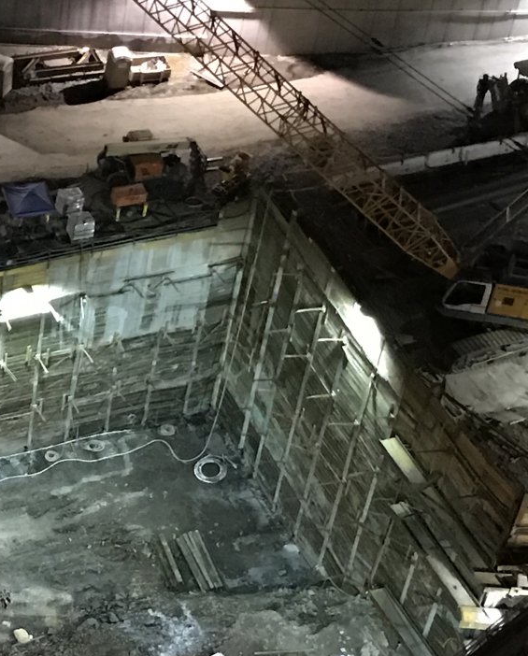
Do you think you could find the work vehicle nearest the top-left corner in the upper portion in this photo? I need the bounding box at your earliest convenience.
[113,135,229,195]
